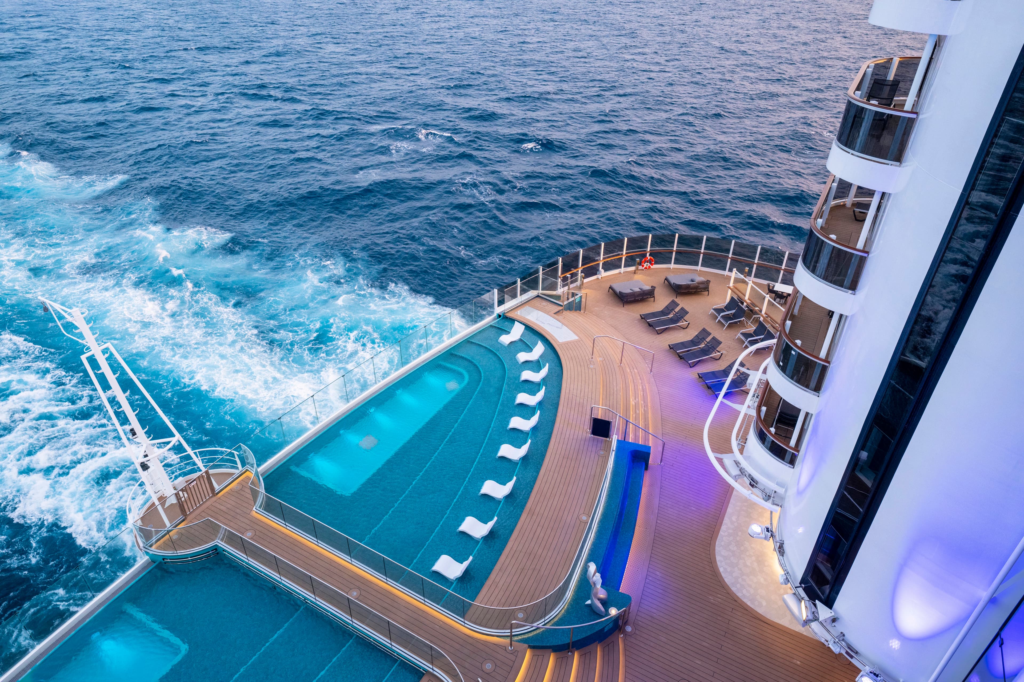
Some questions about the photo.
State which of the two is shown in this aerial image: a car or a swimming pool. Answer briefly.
swimming pool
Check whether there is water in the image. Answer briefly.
Yes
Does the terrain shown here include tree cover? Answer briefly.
No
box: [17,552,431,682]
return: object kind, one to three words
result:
swimming pool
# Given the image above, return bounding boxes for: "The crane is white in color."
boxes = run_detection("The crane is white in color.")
[37,296,217,525]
